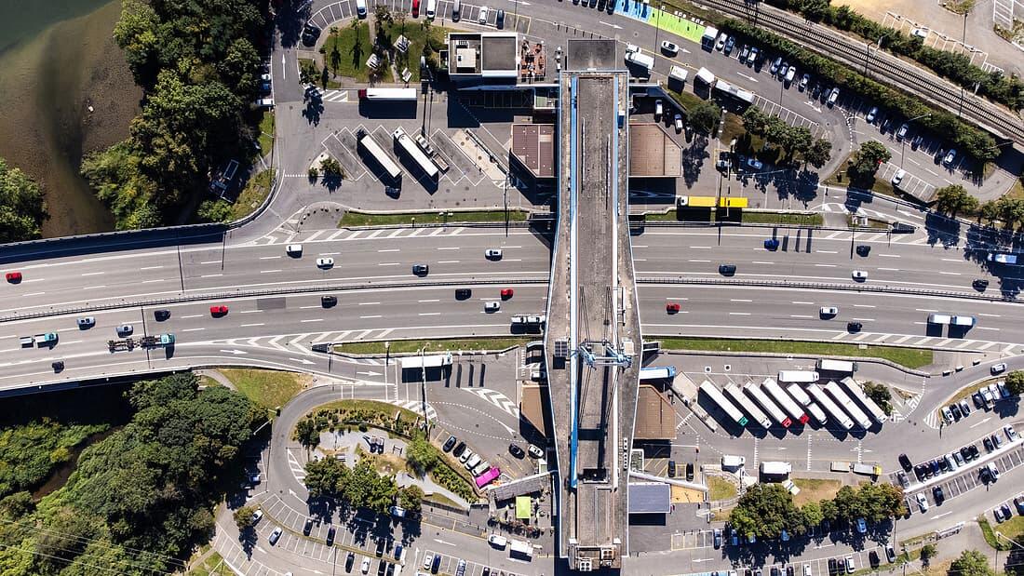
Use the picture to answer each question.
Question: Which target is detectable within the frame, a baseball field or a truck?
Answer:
truck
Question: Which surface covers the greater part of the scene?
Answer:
paved ground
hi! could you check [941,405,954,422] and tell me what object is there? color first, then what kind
white vehicle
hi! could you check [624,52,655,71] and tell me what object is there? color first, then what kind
white vehicle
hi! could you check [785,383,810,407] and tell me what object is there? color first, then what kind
white truck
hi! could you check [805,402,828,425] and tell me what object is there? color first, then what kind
white truck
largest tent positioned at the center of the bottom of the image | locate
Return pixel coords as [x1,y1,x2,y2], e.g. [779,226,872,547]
[516,495,531,518]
